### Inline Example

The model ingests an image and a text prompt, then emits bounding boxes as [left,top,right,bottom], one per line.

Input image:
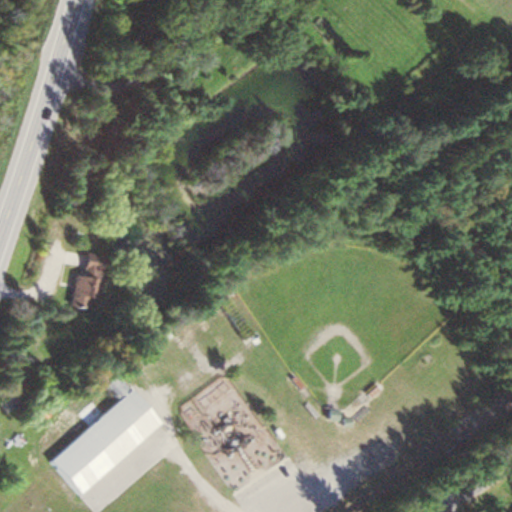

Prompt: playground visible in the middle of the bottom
[180,376,288,489]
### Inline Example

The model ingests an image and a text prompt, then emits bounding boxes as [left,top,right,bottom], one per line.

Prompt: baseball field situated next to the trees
[234,244,446,408]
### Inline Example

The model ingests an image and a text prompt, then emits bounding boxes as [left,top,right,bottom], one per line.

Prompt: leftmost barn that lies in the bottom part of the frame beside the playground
[54,391,162,495]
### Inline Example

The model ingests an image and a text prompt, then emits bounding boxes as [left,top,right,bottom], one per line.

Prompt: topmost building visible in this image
[72,252,108,310]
